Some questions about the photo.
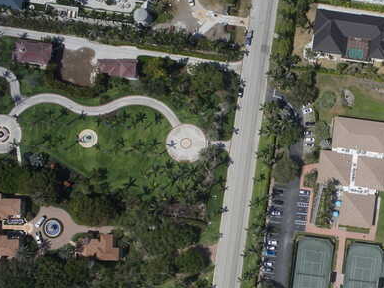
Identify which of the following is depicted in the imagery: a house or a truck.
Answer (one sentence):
Visible in the photo is a house.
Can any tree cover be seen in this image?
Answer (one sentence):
Yes, there is tree cover in the image.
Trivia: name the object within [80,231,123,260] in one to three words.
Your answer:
house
